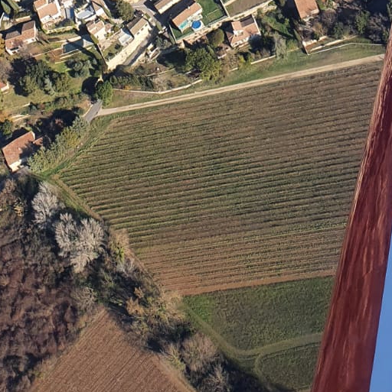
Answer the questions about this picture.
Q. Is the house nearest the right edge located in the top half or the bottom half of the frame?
top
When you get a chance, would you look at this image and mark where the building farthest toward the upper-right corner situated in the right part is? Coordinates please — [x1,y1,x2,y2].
[292,0,327,31]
